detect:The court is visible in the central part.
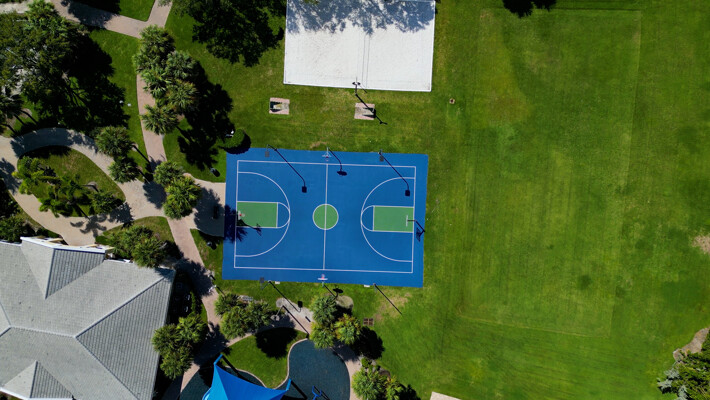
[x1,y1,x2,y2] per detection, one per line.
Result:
[222,148,428,288]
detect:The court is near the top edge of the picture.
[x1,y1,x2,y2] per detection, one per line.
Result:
[284,0,435,92]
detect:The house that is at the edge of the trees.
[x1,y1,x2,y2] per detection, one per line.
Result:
[0,232,176,400]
